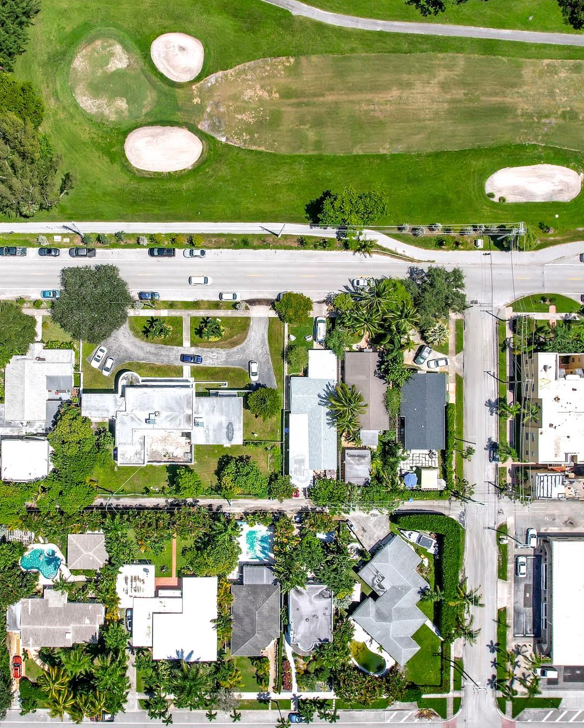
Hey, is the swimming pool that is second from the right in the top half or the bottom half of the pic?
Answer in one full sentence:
It is in the bottom half that the swimming pool that is second from the right appears.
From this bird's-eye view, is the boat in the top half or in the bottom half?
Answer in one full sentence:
The boat is in the bottom half of the image.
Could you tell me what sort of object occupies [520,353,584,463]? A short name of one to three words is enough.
building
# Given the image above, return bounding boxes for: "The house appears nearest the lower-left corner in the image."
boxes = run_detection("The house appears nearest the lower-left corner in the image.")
[7,587,104,651]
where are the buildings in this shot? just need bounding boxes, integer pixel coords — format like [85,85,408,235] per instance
[1,437,51,481]
[118,561,217,662]
[231,563,280,655]
[351,535,429,667]
[344,348,389,445]
[526,468,584,499]
[342,448,370,484]
[520,353,584,463]
[5,343,74,429]
[67,533,107,570]
[289,579,332,651]
[287,349,338,487]
[541,535,584,665]
[81,371,252,465]
[399,373,445,450]
[7,587,104,651]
